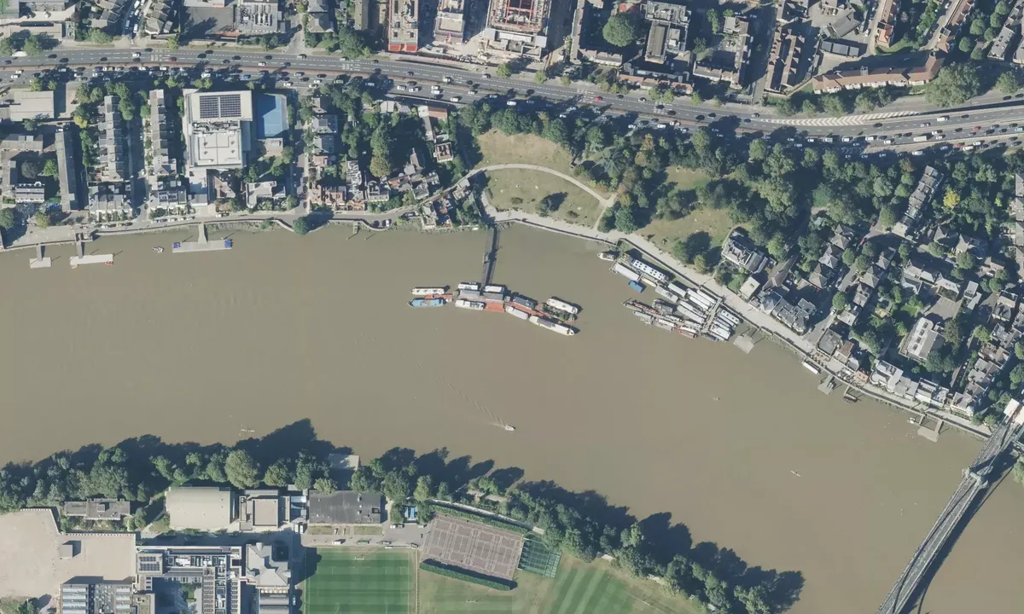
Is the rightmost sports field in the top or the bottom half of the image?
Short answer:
bottom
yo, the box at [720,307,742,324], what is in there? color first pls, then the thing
white boat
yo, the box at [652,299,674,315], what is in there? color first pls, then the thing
gray boat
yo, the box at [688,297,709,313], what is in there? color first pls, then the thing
white boat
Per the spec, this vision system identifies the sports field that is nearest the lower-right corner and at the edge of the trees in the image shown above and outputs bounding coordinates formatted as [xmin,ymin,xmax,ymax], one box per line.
[528,560,675,614]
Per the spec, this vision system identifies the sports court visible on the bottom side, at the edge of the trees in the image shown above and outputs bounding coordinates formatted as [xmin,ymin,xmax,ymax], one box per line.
[422,514,523,580]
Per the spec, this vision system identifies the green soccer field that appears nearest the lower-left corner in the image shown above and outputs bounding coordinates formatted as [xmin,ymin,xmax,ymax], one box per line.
[305,550,410,614]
